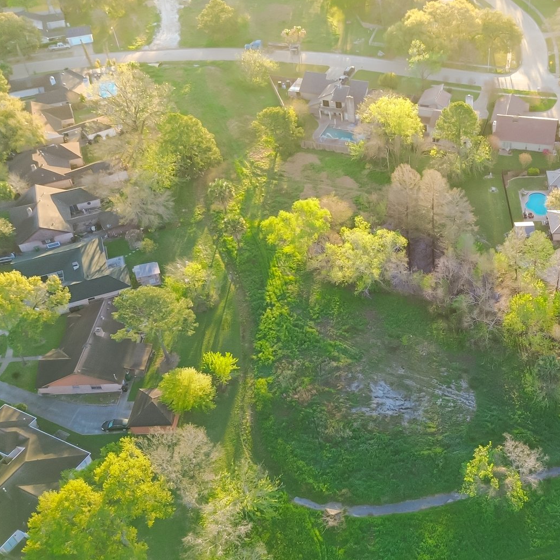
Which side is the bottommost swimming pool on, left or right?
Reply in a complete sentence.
It is on the right.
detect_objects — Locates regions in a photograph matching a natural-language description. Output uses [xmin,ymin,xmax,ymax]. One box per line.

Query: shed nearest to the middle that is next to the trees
[135,261,160,283]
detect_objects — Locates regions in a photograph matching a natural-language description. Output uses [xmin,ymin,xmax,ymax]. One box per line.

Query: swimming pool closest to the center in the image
[318,122,355,141]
